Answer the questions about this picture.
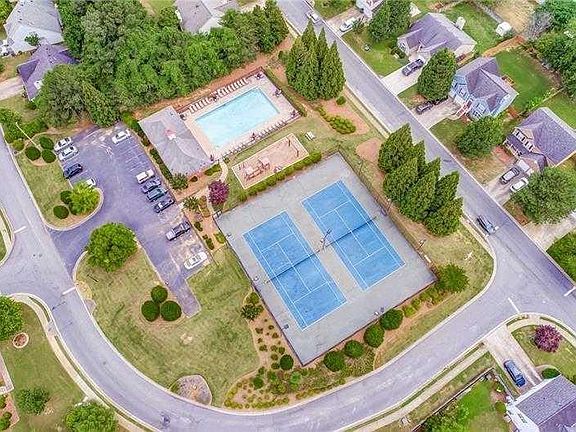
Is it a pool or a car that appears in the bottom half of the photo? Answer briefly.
car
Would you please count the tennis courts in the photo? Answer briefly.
two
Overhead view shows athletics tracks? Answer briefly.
No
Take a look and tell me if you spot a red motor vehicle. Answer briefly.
No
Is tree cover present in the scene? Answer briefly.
Yes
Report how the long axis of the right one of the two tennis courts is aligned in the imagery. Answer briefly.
at an angle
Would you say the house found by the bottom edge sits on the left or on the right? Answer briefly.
right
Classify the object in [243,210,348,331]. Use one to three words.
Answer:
tennis court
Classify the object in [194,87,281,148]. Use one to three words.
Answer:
swimming pool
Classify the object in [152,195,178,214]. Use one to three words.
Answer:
vehicle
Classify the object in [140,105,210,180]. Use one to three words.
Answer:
building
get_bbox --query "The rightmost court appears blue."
[301,179,406,291]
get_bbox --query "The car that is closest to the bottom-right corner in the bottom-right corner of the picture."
[502,361,526,388]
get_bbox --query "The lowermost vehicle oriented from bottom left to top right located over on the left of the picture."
[184,251,207,269]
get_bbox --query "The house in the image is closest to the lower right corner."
[505,370,576,432]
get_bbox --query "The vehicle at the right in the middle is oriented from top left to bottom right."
[476,215,497,236]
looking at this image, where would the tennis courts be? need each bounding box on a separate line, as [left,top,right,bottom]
[301,179,406,291]
[243,210,348,331]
